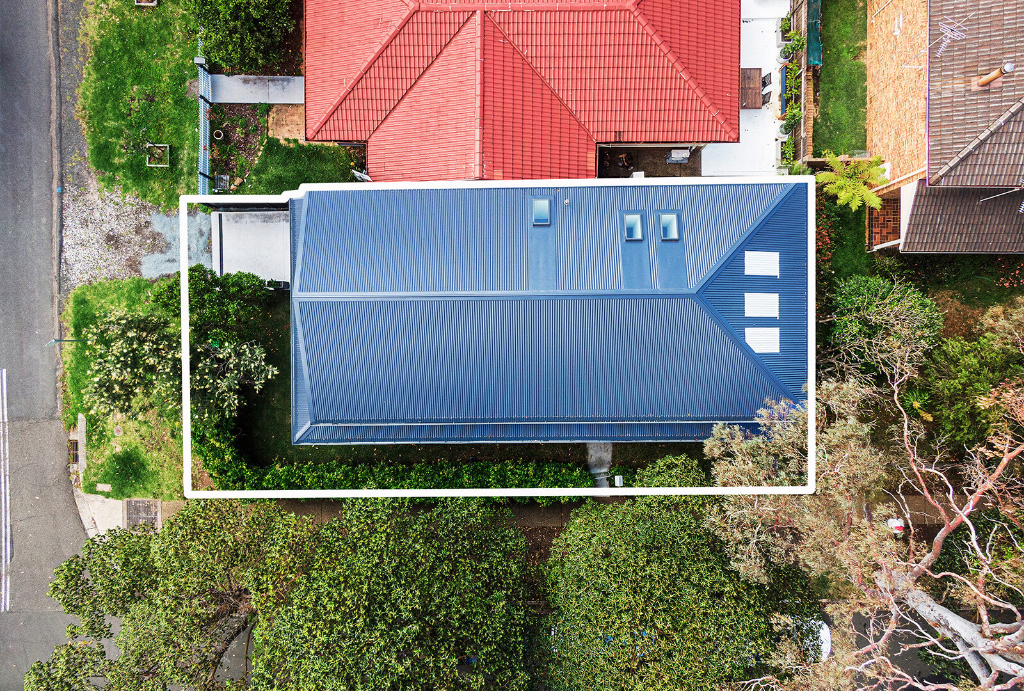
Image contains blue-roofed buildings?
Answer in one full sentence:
Yes, this view includes a blue-roofed building.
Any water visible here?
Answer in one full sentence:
No, no water is visible.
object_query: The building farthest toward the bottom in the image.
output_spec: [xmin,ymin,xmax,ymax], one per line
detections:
[288,184,812,446]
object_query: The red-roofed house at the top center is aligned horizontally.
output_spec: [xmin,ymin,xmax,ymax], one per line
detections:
[301,0,744,188]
